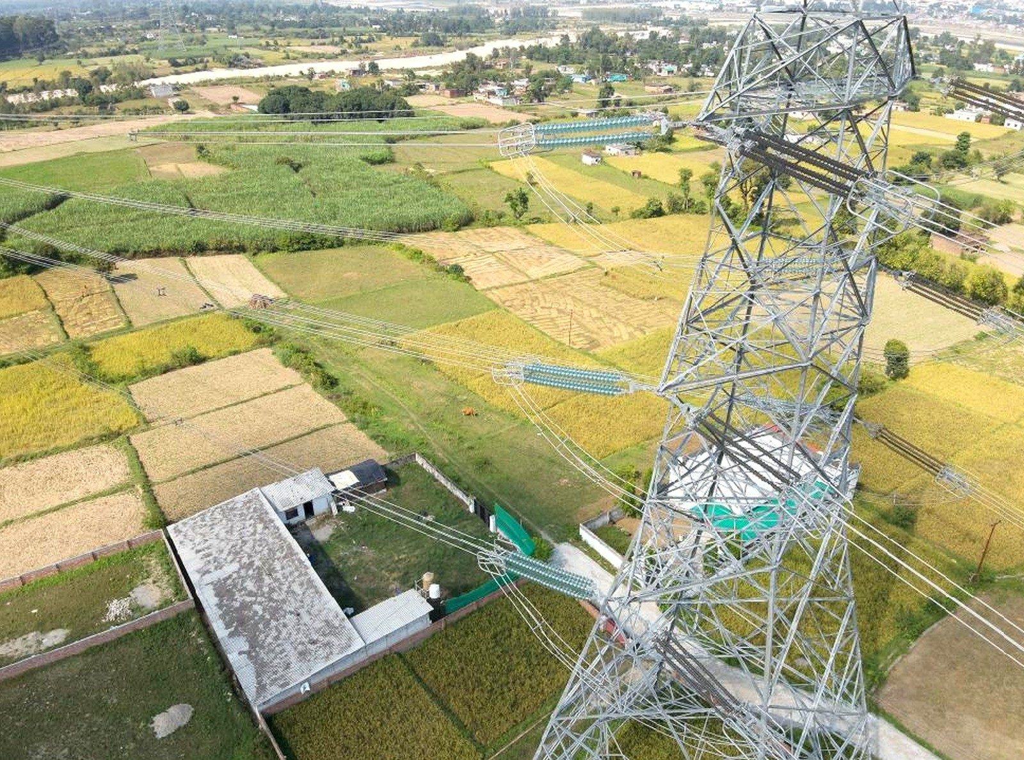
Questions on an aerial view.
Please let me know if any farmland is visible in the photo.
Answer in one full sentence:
Yes, the picture does contain farmland.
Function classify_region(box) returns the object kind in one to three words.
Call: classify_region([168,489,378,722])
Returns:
shed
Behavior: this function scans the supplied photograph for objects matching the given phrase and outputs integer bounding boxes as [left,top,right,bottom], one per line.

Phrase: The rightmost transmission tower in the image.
[532,0,929,760]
